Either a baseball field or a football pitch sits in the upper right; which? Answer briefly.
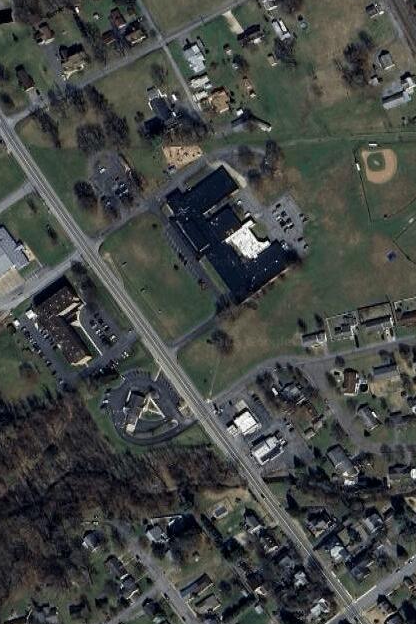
baseball field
